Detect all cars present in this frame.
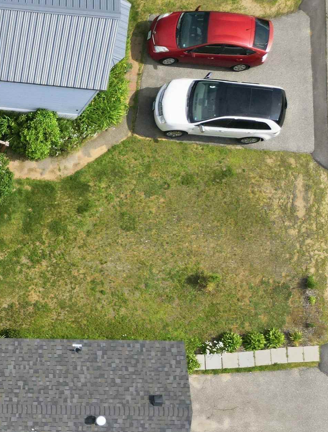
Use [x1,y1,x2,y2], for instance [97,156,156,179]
[149,68,288,144]
[143,1,276,73]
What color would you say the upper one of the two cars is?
red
